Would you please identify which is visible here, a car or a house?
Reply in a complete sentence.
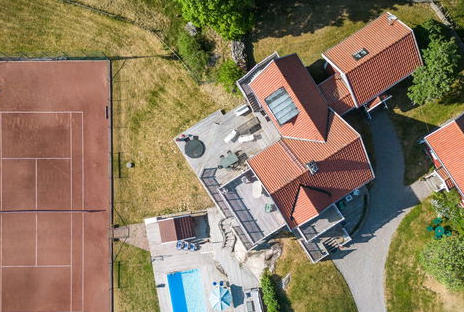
The one in the frame is a house.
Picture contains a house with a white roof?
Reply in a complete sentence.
No, no house with a white roof is visible in the view.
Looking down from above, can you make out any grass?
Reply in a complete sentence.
Yes, grass can be seen from above here.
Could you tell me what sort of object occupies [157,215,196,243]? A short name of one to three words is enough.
shed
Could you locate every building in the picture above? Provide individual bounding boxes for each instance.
[409,112,464,205]
[219,51,376,263]
[157,215,196,243]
